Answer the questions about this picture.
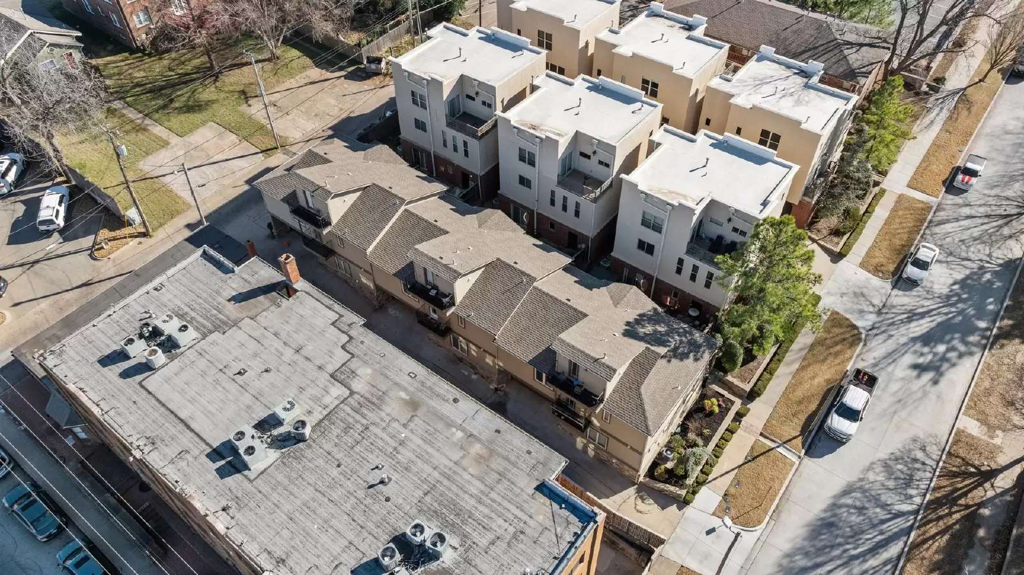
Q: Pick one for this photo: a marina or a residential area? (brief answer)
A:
residential area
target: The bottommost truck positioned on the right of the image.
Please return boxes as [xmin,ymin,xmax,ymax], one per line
[826,366,889,447]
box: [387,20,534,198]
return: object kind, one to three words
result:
house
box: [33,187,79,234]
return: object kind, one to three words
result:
car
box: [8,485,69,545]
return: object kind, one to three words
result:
car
